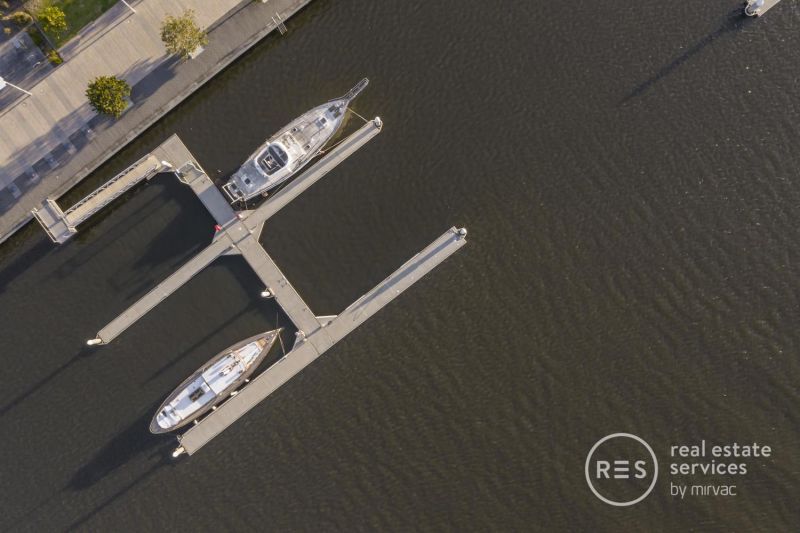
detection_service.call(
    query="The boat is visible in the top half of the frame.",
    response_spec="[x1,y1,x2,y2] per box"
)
[223,75,369,204]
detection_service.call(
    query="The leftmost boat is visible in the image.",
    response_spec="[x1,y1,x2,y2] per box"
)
[150,329,284,434]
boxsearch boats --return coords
[150,329,284,434]
[223,75,369,204]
